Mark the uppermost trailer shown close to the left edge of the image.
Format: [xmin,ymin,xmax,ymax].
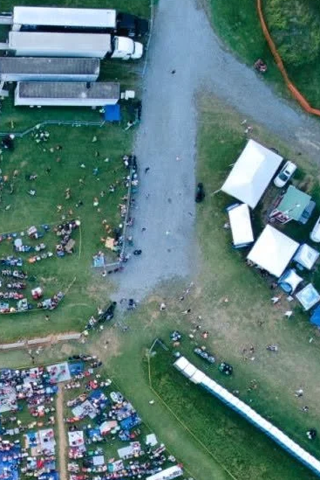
[10,9,116,37]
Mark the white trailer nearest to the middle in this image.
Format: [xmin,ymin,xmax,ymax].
[222,204,254,254]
